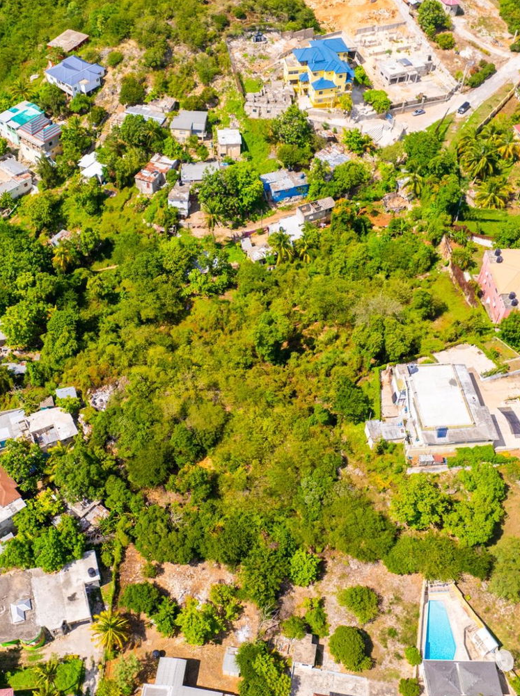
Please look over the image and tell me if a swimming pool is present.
Yes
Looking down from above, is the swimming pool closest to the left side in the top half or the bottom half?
bottom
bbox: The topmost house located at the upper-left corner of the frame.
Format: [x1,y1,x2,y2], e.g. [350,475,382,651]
[47,28,89,60]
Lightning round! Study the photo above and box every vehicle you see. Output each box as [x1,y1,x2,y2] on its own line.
[412,108,426,115]
[458,100,470,112]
